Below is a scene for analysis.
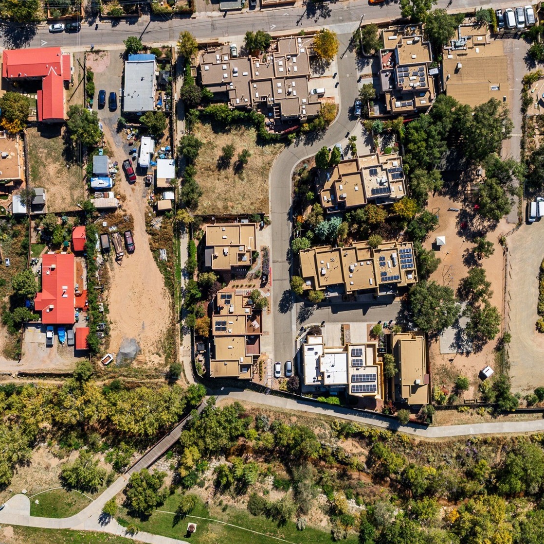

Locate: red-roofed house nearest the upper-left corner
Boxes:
[3,46,75,123]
